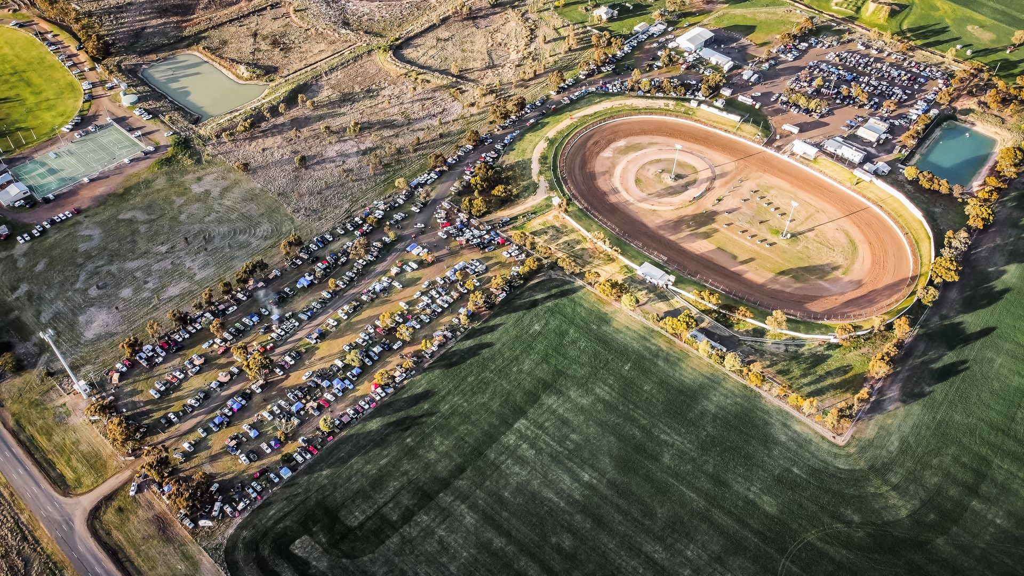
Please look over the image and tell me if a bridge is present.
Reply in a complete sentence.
No, there's no bridge here.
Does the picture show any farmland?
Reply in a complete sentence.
Yes, farmland shows up in the scene.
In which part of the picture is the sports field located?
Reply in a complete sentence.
The sports field appears toward the top left of the photo.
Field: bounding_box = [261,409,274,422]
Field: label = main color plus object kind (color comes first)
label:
white vehicle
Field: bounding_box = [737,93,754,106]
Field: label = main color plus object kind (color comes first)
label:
white vehicle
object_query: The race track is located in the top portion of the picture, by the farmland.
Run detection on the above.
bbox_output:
[566,115,913,314]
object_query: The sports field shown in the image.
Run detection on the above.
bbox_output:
[0,26,84,150]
